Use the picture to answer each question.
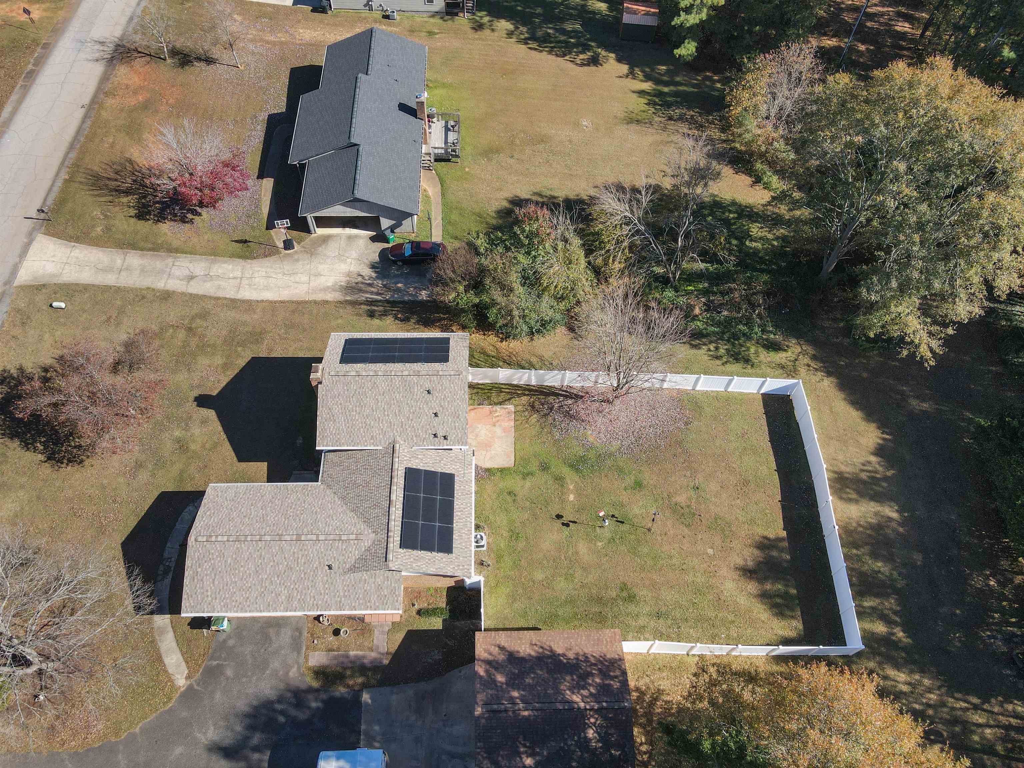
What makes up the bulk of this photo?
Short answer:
grass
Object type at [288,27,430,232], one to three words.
house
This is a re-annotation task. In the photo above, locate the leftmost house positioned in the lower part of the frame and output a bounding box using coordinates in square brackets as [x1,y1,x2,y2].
[181,331,477,622]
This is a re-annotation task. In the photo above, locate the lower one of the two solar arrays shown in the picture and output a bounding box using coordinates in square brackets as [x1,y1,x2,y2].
[401,467,455,553]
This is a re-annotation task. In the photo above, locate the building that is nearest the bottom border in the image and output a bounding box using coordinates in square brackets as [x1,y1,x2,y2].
[475,629,634,768]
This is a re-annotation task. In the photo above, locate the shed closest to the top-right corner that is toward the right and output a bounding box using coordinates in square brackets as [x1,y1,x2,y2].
[619,2,658,45]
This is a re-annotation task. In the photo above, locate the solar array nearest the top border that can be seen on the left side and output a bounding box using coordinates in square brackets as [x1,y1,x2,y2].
[339,336,451,362]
